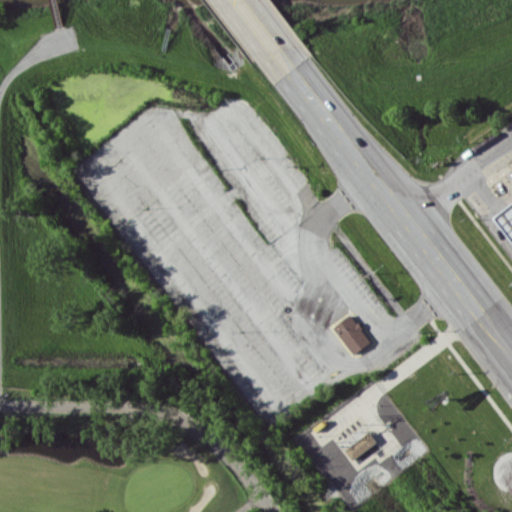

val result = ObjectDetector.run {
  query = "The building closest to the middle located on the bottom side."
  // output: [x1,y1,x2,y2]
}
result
[336,318,370,353]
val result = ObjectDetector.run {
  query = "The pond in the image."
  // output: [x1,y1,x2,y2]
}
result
[60,72,172,150]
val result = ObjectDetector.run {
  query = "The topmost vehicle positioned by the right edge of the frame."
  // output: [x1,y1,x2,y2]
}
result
[460,136,500,160]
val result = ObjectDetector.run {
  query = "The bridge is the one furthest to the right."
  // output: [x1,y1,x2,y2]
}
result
[205,0,310,93]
